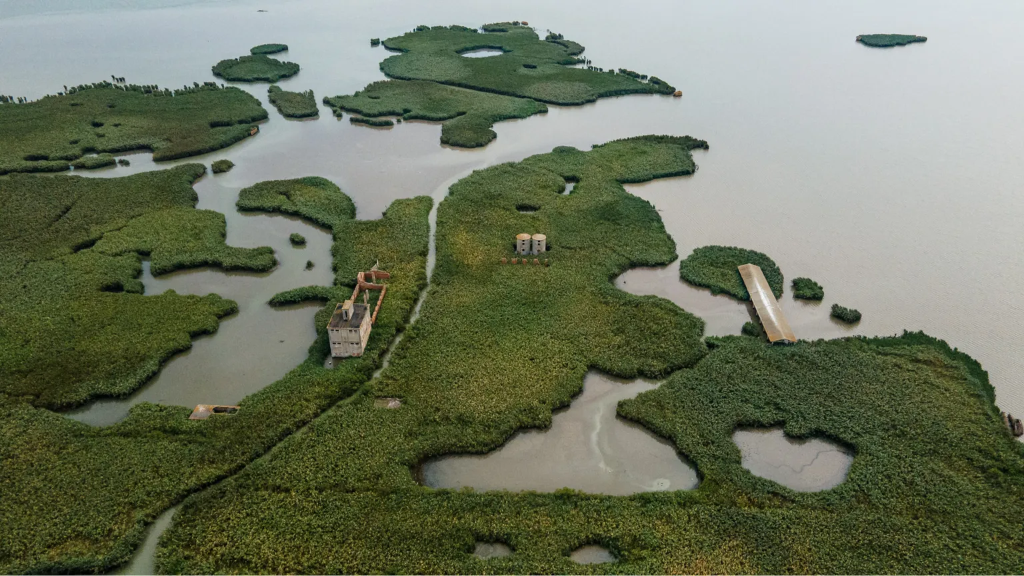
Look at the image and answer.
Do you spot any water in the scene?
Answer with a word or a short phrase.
Yes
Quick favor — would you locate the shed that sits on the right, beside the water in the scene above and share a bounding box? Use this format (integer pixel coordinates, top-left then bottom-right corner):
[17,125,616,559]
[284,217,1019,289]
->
[737,263,797,349]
